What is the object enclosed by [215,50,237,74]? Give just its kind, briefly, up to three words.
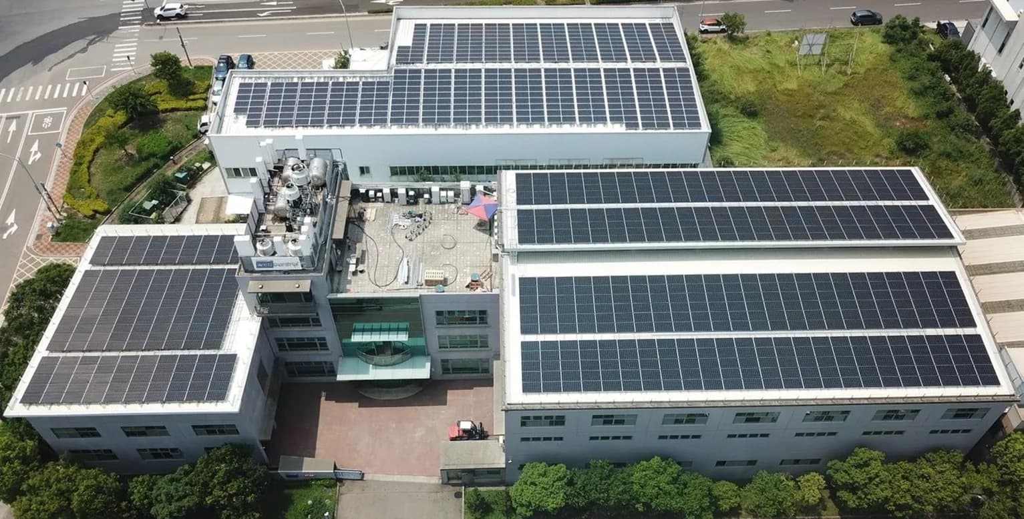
car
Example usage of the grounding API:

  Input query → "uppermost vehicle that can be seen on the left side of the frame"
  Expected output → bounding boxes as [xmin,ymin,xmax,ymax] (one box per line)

[153,1,186,17]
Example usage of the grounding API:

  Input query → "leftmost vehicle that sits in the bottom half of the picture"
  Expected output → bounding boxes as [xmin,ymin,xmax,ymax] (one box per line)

[448,415,494,440]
